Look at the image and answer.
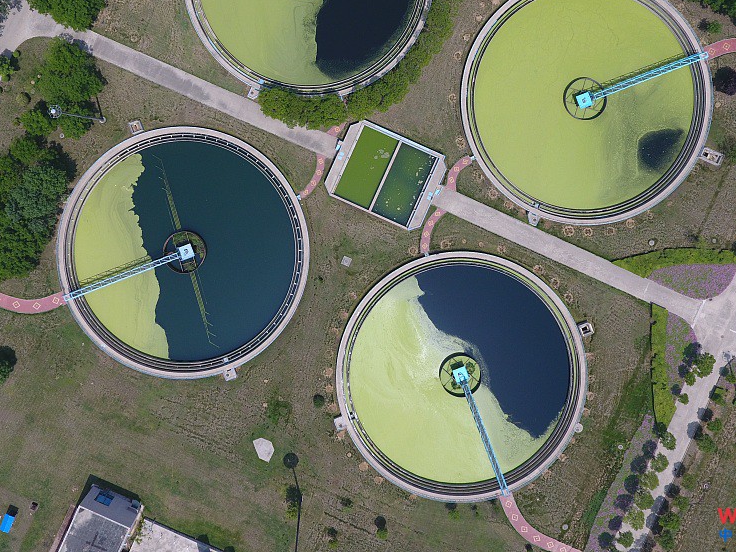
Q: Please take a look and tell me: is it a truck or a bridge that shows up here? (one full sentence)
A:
The image shows a bridge.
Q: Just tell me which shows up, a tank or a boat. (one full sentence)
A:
There is a tank in the scene.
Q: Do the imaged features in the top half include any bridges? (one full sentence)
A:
Yes, you'll find a bridge in the top half.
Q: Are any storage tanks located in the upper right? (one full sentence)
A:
Yes, the scene does show a storage tank in the upper right.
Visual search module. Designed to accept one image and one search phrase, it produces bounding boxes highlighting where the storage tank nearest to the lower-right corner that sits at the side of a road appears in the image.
[335,250,588,503]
